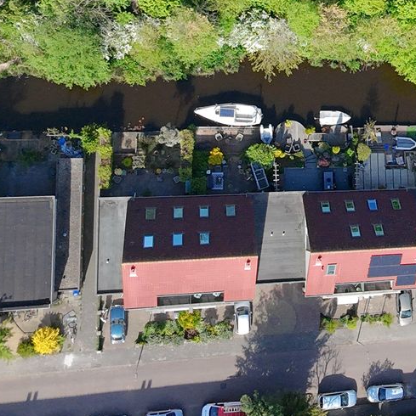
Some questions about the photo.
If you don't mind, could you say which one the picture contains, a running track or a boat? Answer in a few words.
boat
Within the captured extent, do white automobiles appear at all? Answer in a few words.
Yes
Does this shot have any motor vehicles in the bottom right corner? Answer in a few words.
Yes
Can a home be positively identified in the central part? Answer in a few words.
Yes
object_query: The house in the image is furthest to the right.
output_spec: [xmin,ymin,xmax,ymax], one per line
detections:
[304,188,416,306]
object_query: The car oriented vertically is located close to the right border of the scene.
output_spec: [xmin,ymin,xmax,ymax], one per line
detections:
[396,289,415,326]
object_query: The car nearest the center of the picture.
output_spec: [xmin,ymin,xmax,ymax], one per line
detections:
[233,300,252,337]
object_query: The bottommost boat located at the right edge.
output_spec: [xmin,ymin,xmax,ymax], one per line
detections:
[394,136,416,149]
